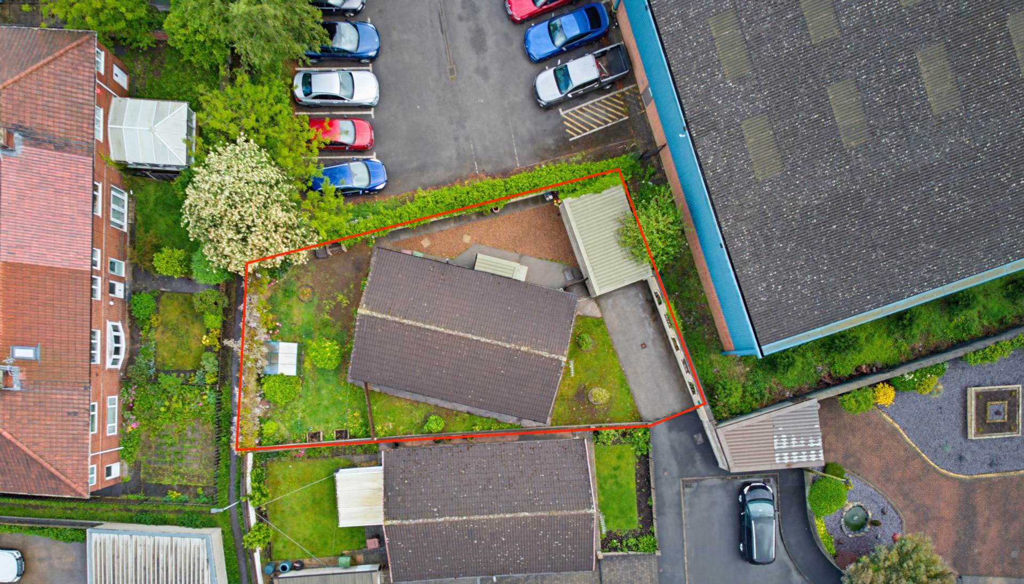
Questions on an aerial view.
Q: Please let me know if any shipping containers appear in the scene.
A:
No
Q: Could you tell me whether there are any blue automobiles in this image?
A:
Yes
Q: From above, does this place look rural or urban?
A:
urban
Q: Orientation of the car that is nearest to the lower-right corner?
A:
up and down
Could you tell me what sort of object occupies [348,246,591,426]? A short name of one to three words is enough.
house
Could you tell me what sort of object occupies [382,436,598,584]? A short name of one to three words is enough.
house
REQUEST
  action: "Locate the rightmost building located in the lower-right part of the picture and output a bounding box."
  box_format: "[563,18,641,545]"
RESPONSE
[707,399,824,472]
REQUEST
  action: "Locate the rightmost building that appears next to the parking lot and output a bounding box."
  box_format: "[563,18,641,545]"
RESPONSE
[613,0,1024,363]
